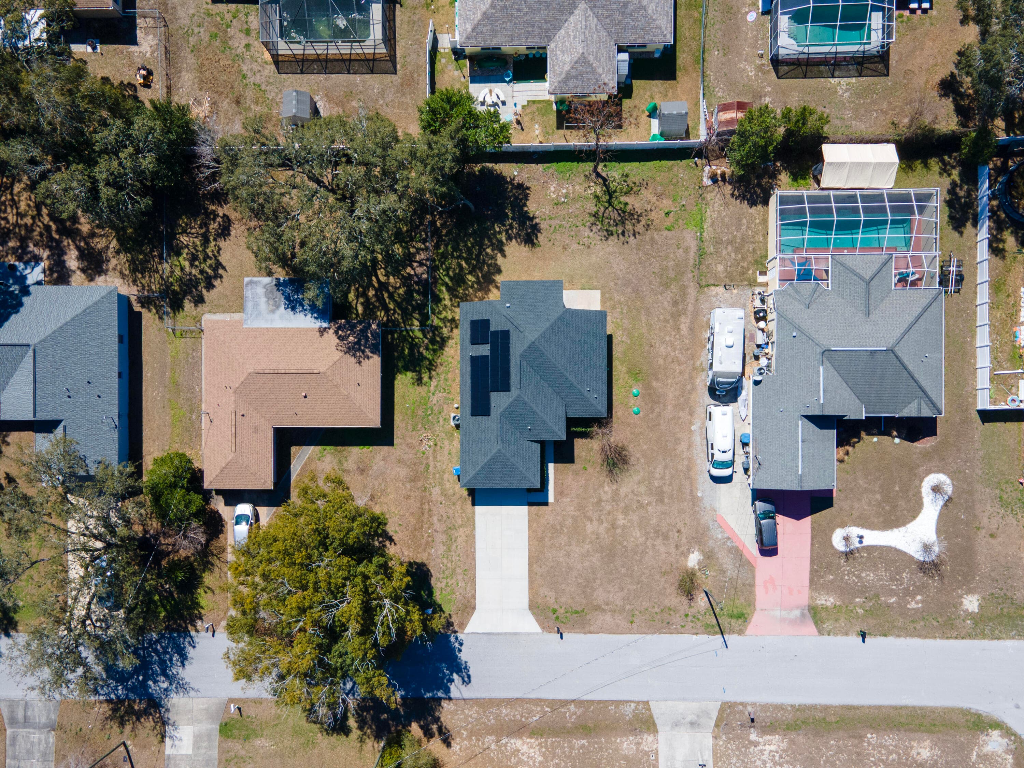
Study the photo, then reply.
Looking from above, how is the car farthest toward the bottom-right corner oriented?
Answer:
up and down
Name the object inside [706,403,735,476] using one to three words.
van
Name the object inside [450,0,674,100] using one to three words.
house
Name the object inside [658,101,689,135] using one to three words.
shed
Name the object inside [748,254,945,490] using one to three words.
house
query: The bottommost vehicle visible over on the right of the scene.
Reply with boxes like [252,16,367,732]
[751,496,778,548]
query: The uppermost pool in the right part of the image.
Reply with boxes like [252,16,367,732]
[783,0,871,47]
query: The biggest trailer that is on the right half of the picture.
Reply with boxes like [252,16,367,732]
[706,308,744,401]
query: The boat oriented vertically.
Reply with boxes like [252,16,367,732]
[737,376,749,421]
